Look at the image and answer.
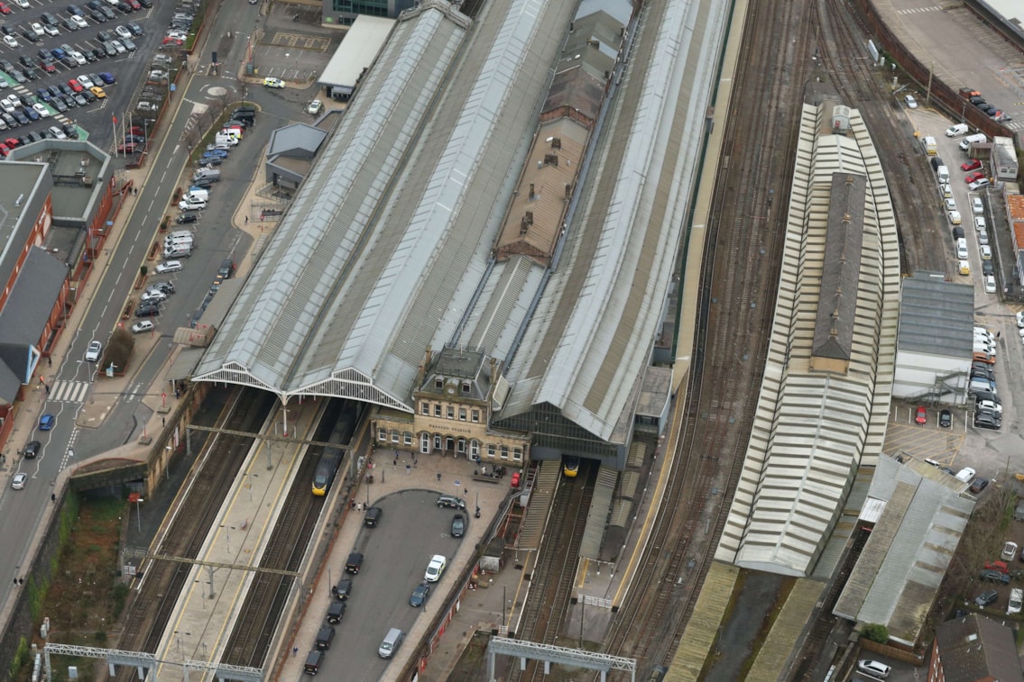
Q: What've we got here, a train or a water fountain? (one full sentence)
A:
Visible in the photo is a train.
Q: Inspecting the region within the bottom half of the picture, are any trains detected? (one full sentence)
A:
Yes, a train can be seen within the bottom half of the picture.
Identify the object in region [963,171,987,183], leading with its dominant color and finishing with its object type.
red vehicle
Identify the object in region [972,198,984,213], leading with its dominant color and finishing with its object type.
white vehicle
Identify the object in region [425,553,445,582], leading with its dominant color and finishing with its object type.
white vehicle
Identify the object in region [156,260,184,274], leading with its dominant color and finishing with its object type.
white car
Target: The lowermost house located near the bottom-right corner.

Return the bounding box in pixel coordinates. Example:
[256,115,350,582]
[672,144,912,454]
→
[933,613,1023,682]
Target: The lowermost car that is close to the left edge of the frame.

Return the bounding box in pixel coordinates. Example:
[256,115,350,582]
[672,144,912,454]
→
[12,472,27,491]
